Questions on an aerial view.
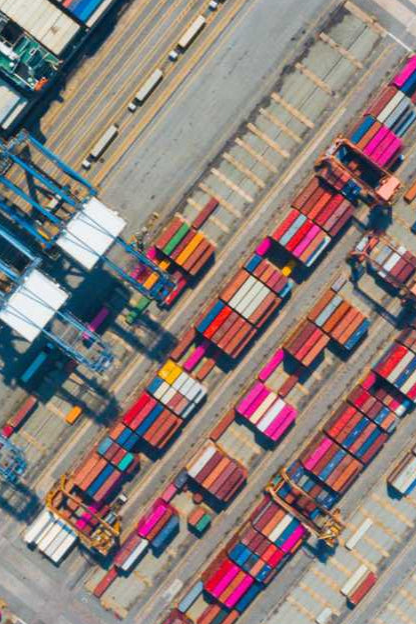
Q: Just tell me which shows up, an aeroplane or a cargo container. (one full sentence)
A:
The image shows a cargo container.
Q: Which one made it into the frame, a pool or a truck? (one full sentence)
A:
The image shows a truck.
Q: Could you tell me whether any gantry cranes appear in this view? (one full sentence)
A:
Yes, a gantry crane is visible in the scene.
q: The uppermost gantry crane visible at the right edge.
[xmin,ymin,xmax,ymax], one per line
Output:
[304,136,400,218]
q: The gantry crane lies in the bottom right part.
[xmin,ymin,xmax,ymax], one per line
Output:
[258,461,352,545]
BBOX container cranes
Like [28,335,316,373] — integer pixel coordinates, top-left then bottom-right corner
[258,461,352,545]
[0,130,180,308]
[304,136,400,218]
[338,228,416,307]
[0,223,124,379]
[38,472,121,556]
